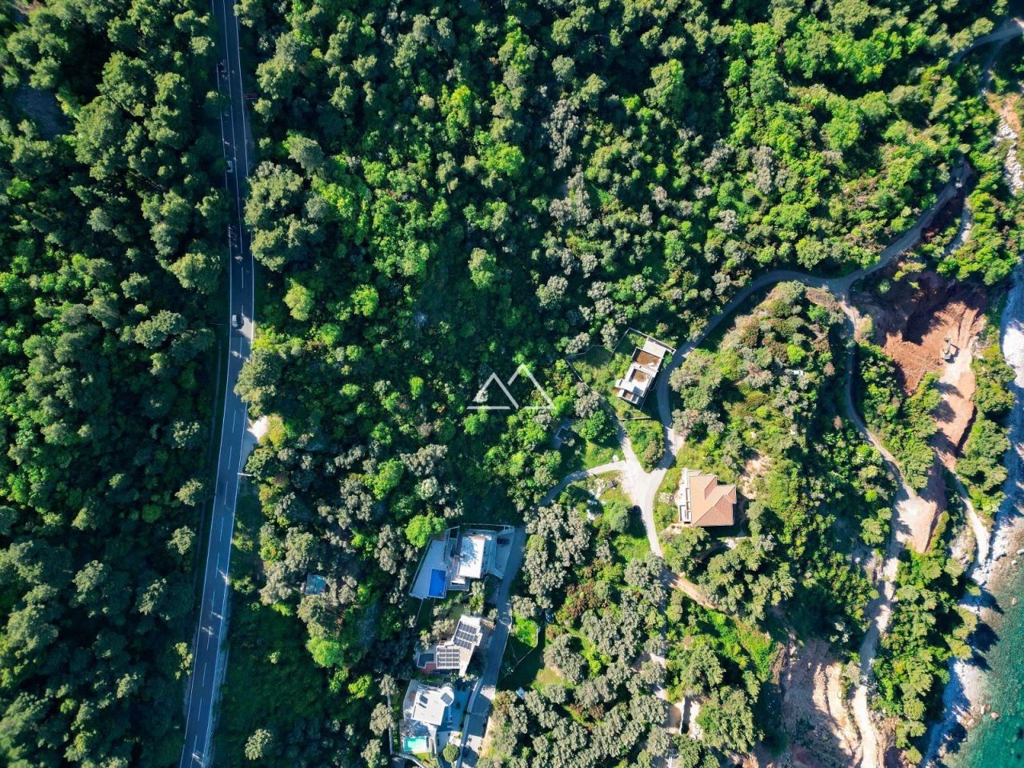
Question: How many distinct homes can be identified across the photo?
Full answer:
The photo contains 5 homes.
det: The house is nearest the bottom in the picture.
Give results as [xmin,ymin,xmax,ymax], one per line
[400,679,472,755]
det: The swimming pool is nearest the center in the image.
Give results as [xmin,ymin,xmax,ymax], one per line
[427,568,448,598]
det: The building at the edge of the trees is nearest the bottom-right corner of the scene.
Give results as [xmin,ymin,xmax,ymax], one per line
[674,468,737,526]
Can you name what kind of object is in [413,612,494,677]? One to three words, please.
house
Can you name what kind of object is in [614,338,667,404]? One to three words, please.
house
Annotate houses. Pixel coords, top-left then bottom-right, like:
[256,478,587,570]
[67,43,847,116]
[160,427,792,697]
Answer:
[614,338,667,404]
[409,525,513,600]
[413,612,494,677]
[674,468,737,526]
[400,679,472,755]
